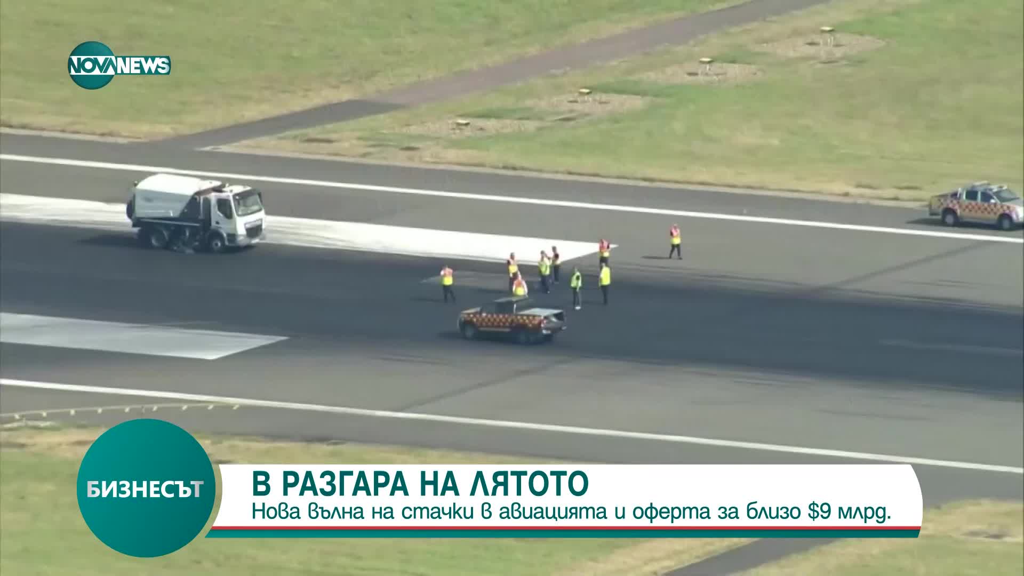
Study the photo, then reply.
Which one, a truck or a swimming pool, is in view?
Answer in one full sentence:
It is a truck that can be seen here.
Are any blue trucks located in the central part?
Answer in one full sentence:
No, in the central part there is no blue truck.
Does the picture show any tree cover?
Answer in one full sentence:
No, no tree cover is visible.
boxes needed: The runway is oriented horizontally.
[0,134,1024,497]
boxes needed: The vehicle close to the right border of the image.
[926,175,1024,234]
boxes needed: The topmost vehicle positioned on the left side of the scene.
[128,174,267,253]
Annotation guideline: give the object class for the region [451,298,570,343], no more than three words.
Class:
truck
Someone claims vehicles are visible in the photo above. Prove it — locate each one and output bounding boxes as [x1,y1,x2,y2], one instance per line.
[128,174,267,253]
[926,175,1024,234]
[451,298,570,343]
